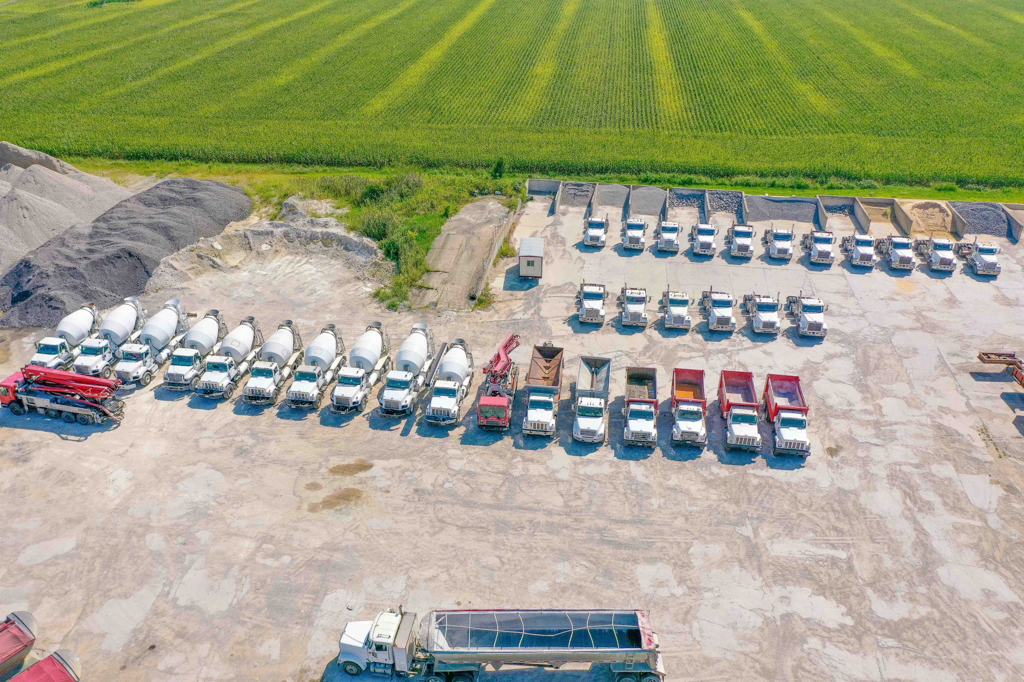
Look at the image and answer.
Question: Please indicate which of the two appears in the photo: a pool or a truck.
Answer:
truck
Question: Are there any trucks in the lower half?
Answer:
Yes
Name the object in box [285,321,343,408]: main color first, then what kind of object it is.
white truck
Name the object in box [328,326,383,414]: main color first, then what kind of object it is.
white truck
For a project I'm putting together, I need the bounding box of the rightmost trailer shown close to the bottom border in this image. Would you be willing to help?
[429,607,664,682]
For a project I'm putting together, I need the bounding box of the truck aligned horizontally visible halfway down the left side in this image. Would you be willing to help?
[0,369,124,429]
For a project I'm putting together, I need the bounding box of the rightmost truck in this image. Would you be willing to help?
[954,235,1003,275]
